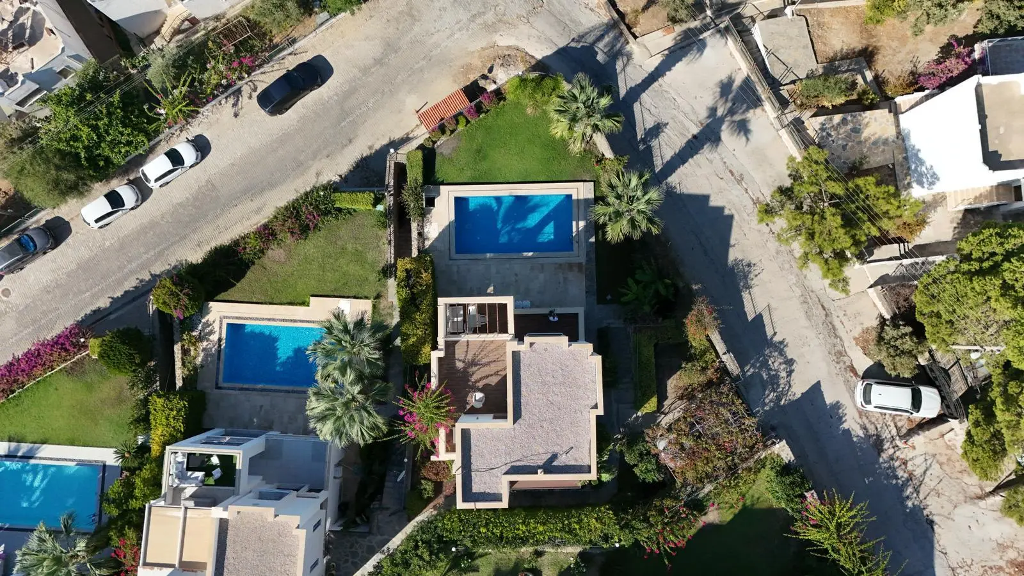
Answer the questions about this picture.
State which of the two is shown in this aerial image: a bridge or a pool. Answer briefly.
pool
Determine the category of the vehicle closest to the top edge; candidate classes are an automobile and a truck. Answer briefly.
automobile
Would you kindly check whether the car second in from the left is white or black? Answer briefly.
white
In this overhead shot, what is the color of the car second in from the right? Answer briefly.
black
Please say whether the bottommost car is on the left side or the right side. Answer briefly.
right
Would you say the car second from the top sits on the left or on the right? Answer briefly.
left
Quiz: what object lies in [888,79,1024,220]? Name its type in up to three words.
house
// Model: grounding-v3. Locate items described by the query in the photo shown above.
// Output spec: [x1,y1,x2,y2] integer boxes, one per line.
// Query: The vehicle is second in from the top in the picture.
[134,139,206,192]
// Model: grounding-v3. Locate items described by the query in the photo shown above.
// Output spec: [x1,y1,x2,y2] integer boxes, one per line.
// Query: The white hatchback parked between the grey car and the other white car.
[74,181,147,232]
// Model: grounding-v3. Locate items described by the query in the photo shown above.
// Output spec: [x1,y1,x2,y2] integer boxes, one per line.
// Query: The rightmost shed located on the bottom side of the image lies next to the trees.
[926,345,969,399]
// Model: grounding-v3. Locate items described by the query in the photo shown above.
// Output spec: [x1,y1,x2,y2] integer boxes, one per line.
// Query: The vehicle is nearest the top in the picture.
[250,60,327,120]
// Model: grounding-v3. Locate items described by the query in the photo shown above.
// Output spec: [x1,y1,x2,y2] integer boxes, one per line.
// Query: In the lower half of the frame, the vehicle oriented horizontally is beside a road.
[856,378,938,420]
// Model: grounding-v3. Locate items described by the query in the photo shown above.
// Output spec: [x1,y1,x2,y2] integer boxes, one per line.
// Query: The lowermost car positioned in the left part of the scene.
[0,224,62,282]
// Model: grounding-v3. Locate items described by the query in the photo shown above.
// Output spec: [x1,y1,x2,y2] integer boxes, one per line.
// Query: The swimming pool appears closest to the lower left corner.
[0,440,126,553]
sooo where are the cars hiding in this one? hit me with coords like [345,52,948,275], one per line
[134,139,206,192]
[250,60,327,120]
[74,181,147,232]
[0,224,62,282]
[856,378,938,420]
